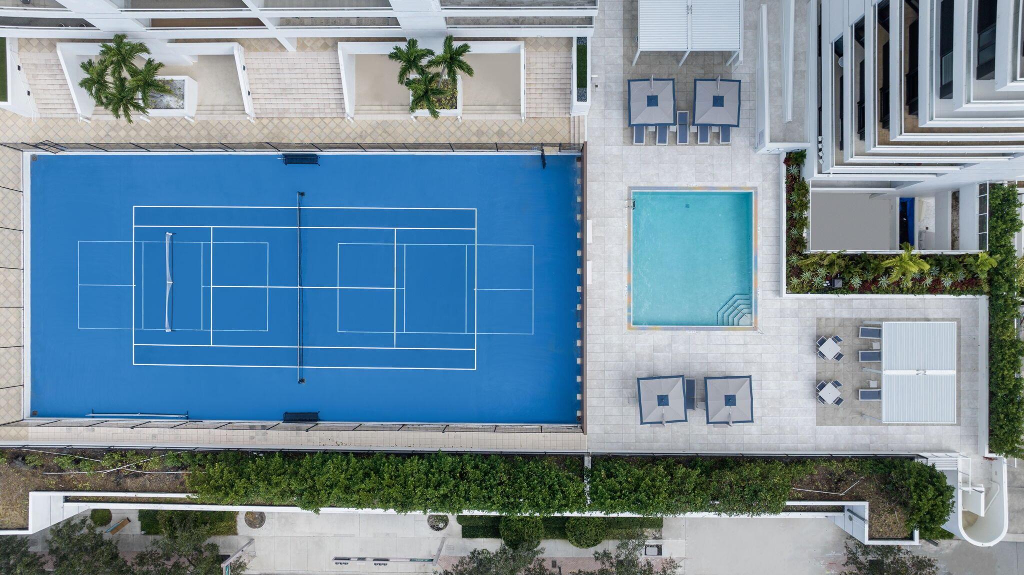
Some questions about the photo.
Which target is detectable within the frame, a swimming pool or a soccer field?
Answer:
swimming pool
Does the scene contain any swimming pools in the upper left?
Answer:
No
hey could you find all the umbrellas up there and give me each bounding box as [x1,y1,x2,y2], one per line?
[628,72,676,127]
[704,376,754,427]
[692,73,741,128]
[636,375,688,427]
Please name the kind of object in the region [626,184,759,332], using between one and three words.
swimming pool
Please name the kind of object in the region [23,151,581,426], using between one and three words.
tennis court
